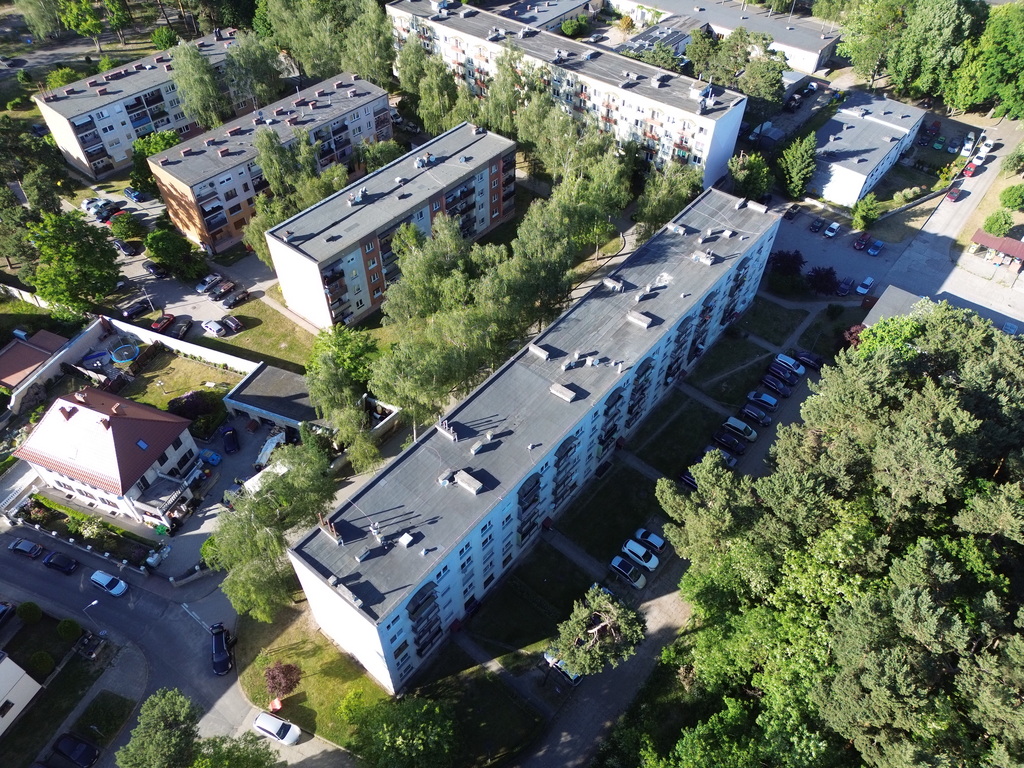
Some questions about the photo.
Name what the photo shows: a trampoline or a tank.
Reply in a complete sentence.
Looking from above, you can make out a trampoline.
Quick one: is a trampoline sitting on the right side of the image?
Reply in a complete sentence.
No, no trampoline can be made out on the right side of the image.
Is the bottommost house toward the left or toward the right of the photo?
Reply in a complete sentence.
It is on the left.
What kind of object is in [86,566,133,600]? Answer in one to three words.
car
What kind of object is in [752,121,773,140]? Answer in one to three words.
vehicle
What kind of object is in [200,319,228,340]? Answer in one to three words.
car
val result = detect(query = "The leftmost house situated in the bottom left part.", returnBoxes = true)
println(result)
[0,643,42,731]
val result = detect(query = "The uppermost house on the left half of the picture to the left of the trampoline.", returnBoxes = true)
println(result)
[0,326,70,399]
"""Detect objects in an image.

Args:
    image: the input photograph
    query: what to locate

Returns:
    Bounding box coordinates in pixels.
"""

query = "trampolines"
[106,335,141,365]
